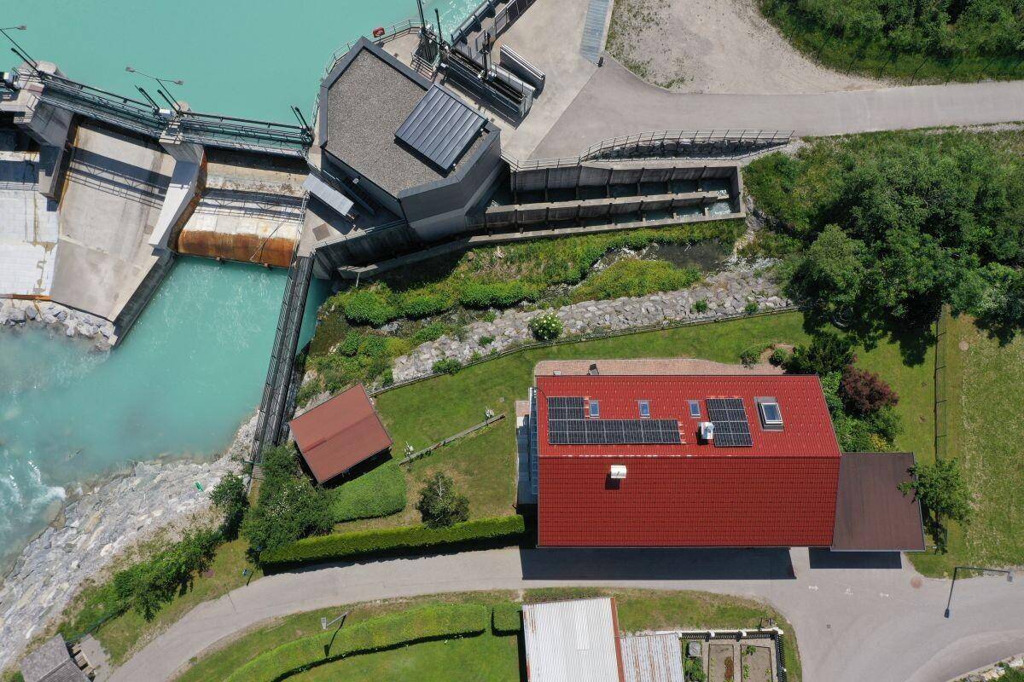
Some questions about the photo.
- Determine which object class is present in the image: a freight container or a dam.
dam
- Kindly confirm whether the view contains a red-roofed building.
Yes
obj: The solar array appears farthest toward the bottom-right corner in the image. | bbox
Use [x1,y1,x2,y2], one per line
[705,399,755,446]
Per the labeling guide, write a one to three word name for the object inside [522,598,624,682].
shed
